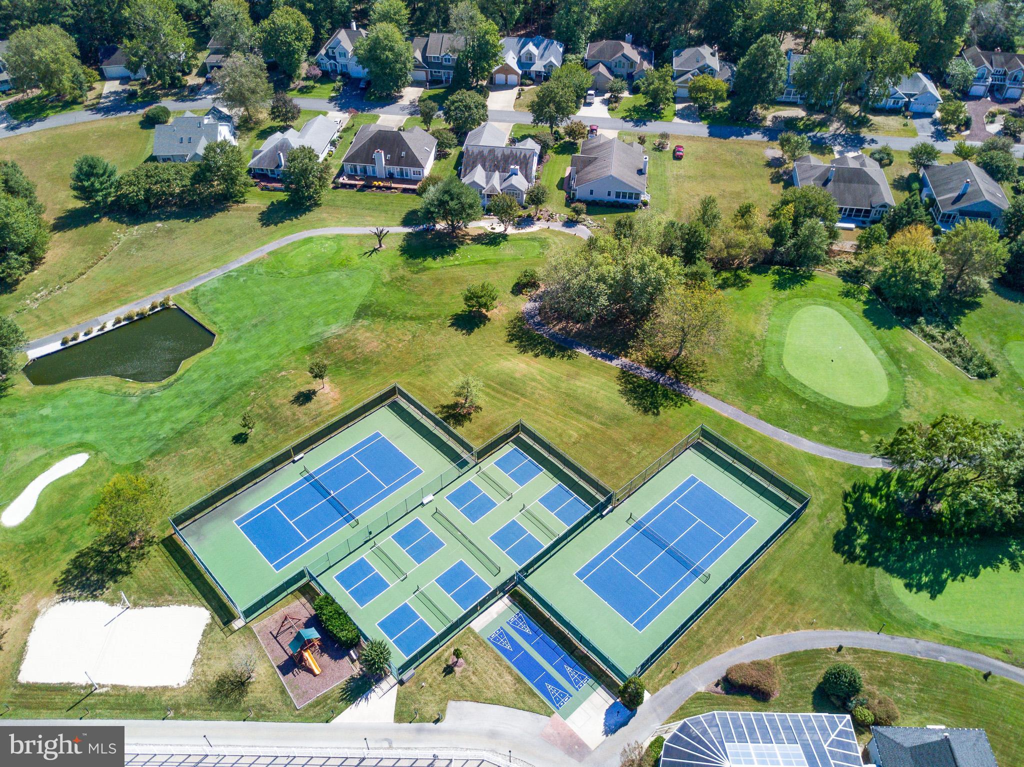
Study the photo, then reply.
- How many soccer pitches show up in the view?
zero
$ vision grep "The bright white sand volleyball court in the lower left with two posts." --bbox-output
[18,590,209,689]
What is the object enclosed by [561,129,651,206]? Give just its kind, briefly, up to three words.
house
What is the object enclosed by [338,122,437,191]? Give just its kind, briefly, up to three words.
house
